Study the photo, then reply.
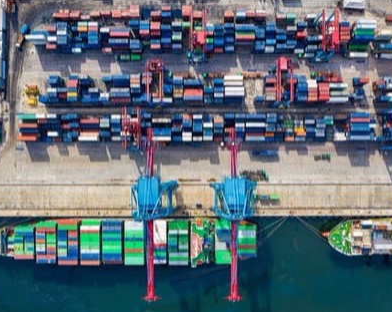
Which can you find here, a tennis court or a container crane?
container crane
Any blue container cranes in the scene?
Yes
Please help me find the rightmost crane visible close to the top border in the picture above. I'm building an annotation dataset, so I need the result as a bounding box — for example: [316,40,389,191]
[310,8,338,66]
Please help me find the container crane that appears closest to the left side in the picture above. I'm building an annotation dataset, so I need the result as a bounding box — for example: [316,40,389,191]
[122,106,147,154]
